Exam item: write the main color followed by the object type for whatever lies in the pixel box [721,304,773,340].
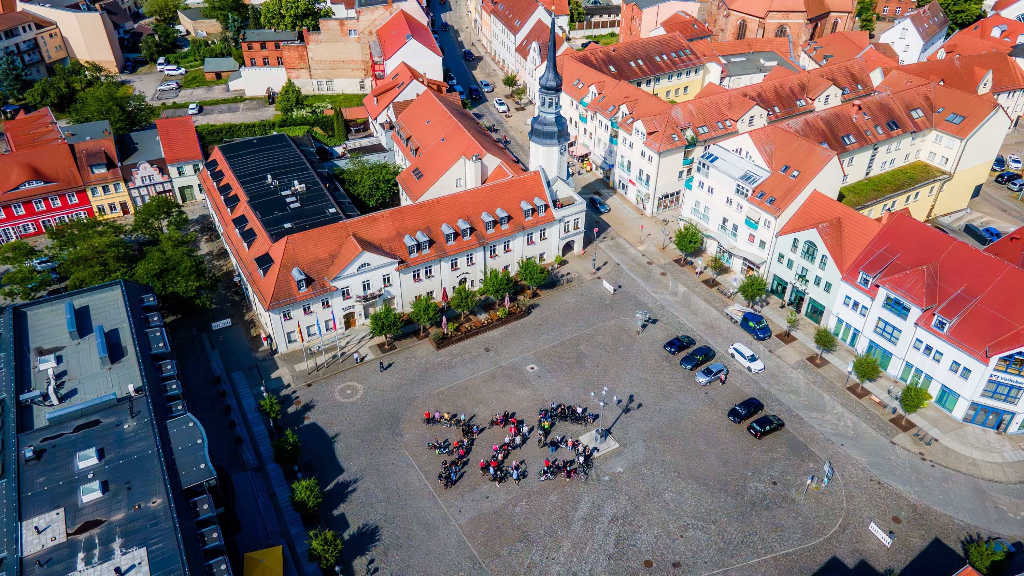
blue truck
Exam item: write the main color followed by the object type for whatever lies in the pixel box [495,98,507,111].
white vehicle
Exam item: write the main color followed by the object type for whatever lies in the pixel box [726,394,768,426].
black car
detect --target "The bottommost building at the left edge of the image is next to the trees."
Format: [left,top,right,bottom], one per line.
[0,277,258,576]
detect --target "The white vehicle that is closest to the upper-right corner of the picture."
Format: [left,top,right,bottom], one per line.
[1006,153,1023,170]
